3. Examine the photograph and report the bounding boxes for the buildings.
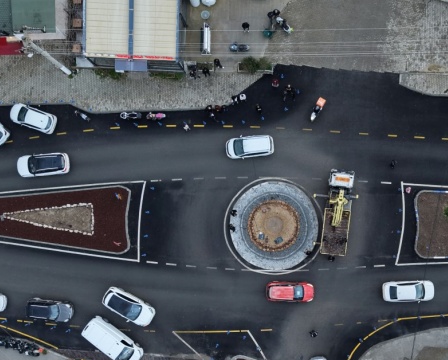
[81,0,182,75]
[0,0,68,44]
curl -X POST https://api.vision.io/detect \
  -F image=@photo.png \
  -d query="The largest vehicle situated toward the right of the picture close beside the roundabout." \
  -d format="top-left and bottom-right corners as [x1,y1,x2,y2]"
[315,168,363,257]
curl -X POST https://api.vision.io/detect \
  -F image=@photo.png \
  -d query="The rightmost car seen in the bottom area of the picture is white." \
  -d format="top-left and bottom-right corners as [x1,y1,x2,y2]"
[381,279,433,304]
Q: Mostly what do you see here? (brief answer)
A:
paved ground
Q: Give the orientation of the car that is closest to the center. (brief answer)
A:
from side to side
